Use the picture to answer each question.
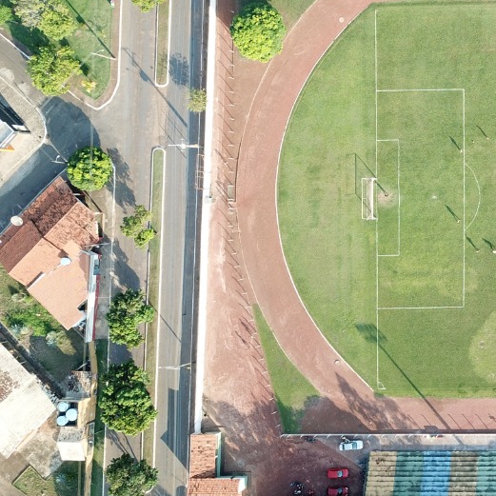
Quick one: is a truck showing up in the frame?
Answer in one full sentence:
No, the frame has no truck in it.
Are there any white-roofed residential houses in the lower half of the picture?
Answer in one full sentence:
Yes, looking in the lower half of the picture, one can make out a white-roofed residential house.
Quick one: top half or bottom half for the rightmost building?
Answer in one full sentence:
It is in the bottom half that the rightmost building appears.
